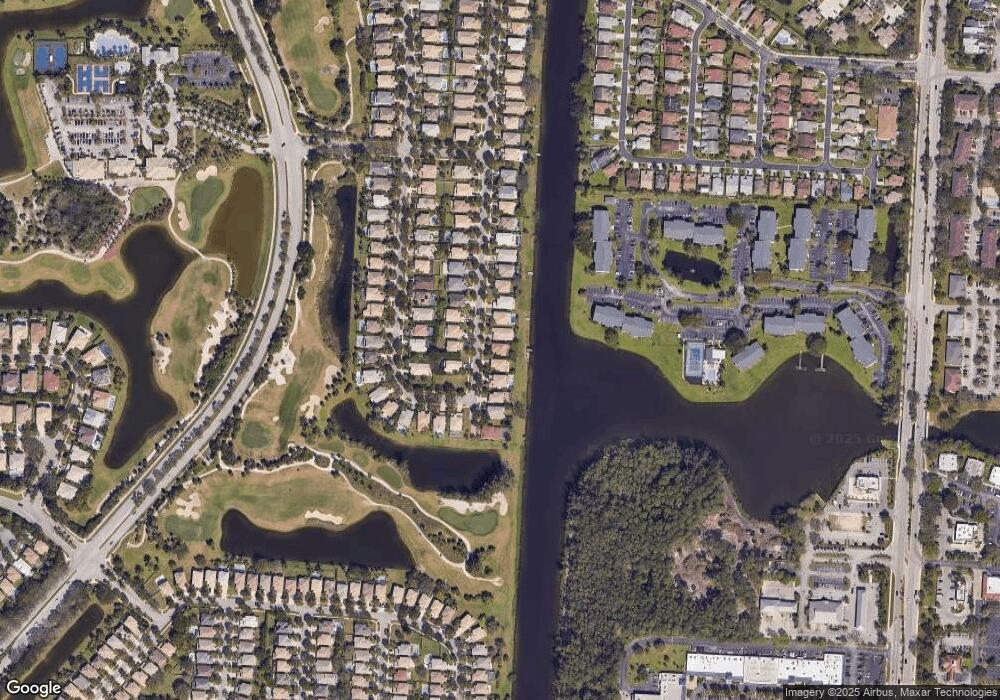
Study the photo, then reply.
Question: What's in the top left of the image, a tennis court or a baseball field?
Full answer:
You can see a tennis court in the top left of the image.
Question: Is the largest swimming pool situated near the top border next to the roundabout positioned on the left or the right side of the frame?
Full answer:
The largest swimming pool situated near the top border next to the roundabout is on the left side of the image.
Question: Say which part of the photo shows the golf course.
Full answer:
The golf course appears toward the left of the photo.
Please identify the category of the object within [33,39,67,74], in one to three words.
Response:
tennis court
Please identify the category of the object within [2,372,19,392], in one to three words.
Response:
house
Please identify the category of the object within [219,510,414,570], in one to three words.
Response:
pond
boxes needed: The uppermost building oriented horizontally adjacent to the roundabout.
[142,46,179,64]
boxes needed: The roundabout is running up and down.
[144,66,178,153]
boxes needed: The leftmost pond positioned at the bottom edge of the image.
[6,604,104,700]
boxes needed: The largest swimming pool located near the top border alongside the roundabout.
[90,28,139,58]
